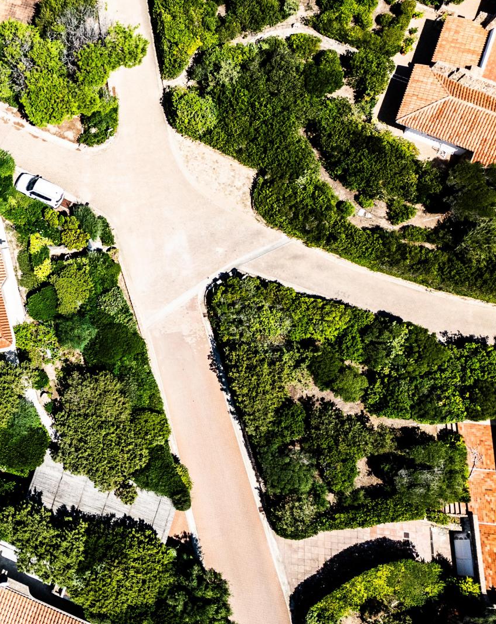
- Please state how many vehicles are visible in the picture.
2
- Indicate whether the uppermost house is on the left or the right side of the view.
right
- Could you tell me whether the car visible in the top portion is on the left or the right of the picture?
left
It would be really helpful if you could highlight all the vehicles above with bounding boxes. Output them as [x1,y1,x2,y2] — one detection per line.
[452,531,485,575]
[14,171,67,209]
